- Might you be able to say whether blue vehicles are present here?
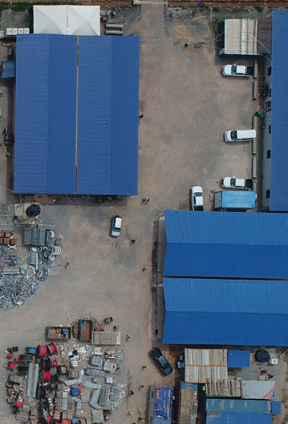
Yes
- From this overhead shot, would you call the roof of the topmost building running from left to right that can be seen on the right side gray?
No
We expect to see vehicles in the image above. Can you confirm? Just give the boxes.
[188,183,204,212]
[208,191,255,210]
[149,347,170,375]
[219,176,251,191]
[108,213,123,241]
[219,63,251,77]
[221,130,255,143]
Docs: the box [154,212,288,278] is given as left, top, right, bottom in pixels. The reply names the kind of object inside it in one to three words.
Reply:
building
